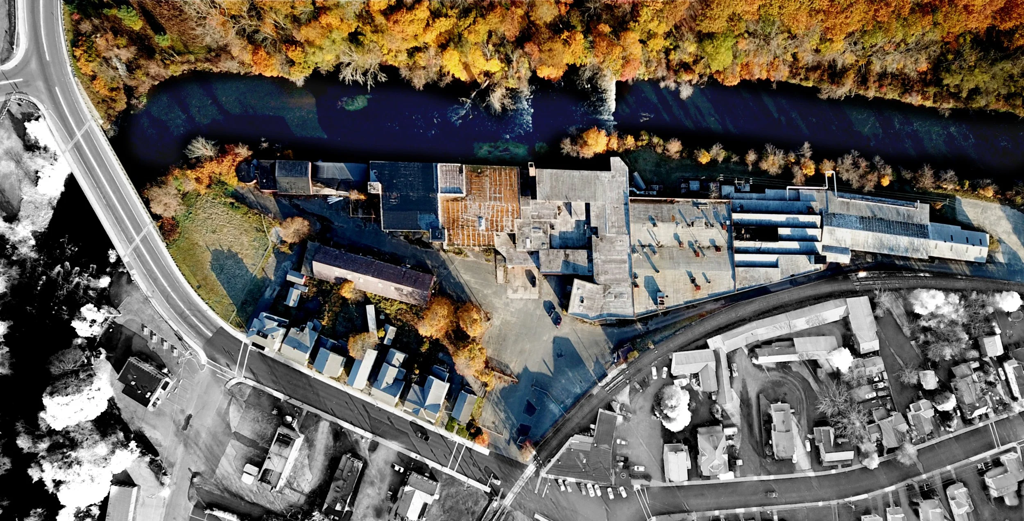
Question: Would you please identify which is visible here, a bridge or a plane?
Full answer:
Looking from above, you can make out a bridge.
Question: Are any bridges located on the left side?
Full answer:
Yes, a bridge can be seen on the left side.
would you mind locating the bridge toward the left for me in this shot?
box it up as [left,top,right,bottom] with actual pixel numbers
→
[44,119,172,274]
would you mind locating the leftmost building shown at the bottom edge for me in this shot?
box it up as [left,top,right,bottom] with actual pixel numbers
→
[106,484,141,521]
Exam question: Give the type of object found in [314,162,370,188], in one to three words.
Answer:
shed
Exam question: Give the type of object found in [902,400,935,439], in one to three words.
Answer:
house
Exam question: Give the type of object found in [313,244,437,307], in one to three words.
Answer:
barn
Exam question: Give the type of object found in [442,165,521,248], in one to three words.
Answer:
building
